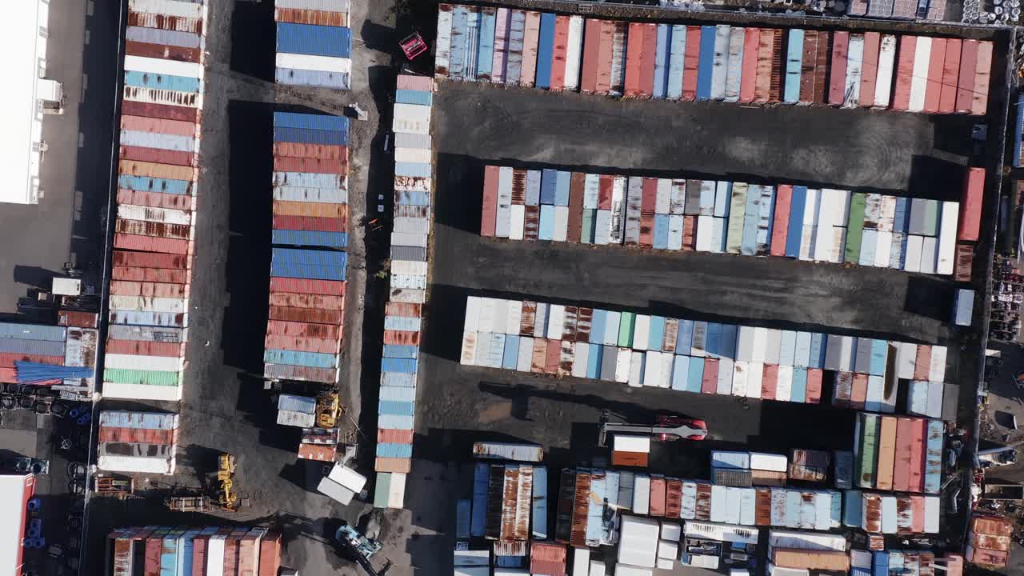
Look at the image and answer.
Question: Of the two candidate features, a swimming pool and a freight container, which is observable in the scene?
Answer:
freight container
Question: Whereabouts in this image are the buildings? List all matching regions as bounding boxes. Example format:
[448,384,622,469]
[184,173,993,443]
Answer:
[0,0,52,205]
[0,471,37,576]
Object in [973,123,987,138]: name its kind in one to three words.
vehicle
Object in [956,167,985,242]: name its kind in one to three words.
shipping container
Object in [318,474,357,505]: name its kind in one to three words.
shipping container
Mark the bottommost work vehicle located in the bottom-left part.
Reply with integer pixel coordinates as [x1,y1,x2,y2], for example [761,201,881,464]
[215,454,238,509]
